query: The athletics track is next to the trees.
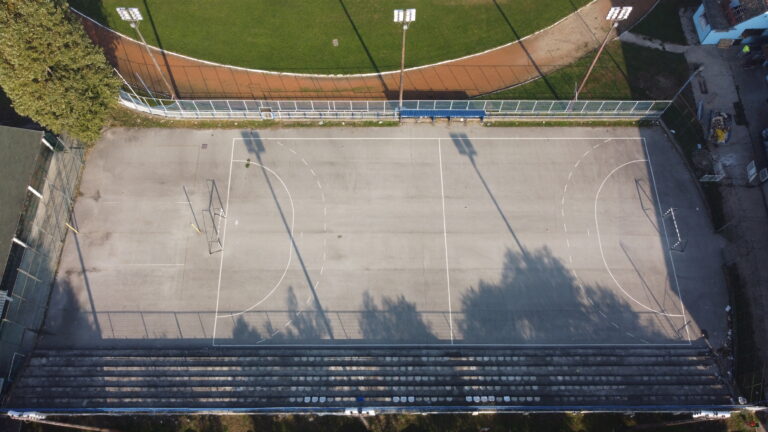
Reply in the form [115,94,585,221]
[1,0,662,110]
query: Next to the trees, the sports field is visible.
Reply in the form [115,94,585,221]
[67,0,597,73]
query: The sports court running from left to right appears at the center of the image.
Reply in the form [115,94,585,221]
[211,138,691,346]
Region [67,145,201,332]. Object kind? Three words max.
sports court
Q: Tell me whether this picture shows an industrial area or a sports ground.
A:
sports ground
